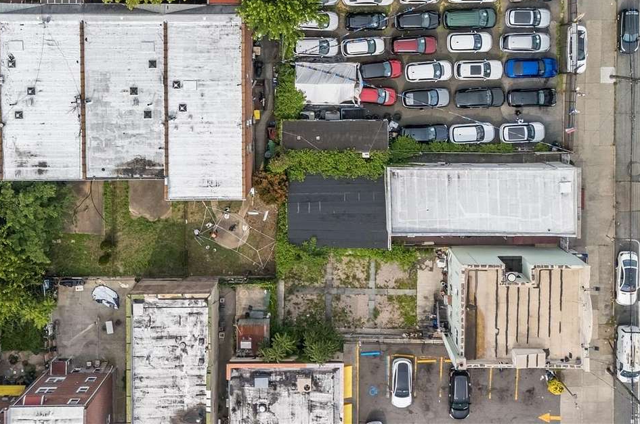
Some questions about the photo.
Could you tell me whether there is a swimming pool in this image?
No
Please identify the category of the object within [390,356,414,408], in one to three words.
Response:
car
